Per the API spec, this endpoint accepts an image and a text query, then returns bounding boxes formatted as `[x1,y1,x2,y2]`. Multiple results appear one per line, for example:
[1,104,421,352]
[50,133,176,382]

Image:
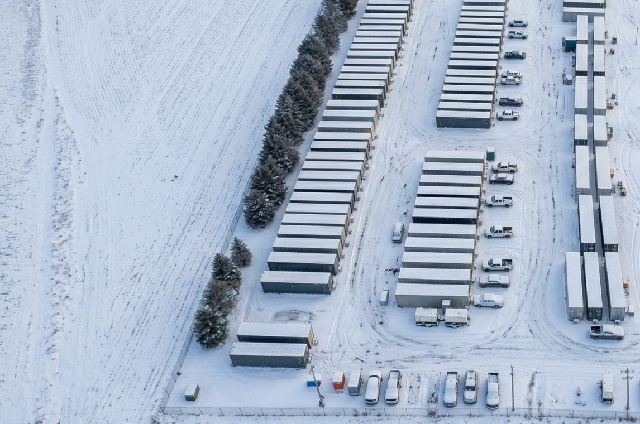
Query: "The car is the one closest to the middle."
[391,222,404,243]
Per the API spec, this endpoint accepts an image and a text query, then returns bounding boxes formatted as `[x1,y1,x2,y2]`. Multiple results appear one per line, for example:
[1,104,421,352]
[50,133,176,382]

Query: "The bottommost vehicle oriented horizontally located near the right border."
[588,325,625,340]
